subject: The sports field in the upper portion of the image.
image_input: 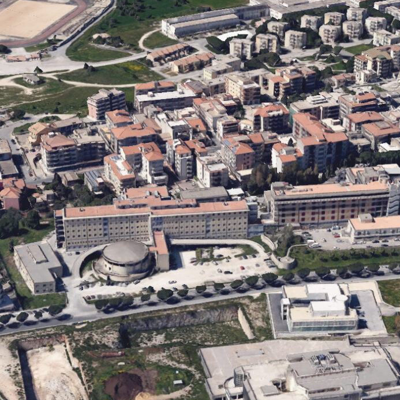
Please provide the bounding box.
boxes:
[0,0,78,38]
